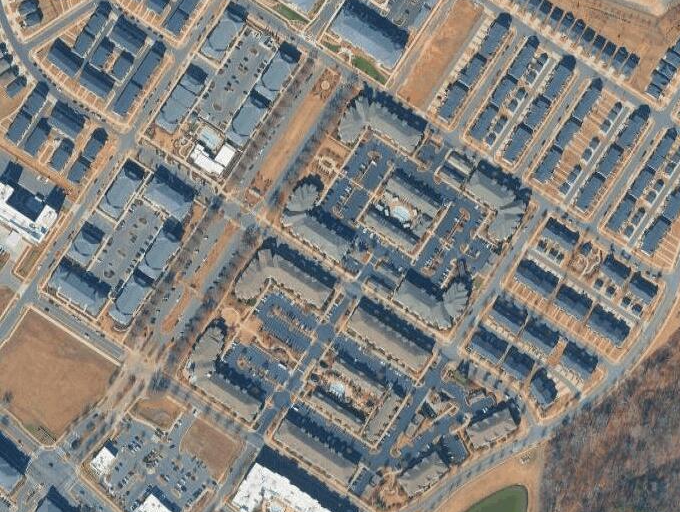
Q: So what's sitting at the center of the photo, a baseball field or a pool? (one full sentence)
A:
The feature located at the center of the photo is a pool.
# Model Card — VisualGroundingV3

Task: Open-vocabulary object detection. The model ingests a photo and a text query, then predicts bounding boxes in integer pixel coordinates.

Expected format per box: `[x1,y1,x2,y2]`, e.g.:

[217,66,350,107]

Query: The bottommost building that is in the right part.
[399,455,449,498]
